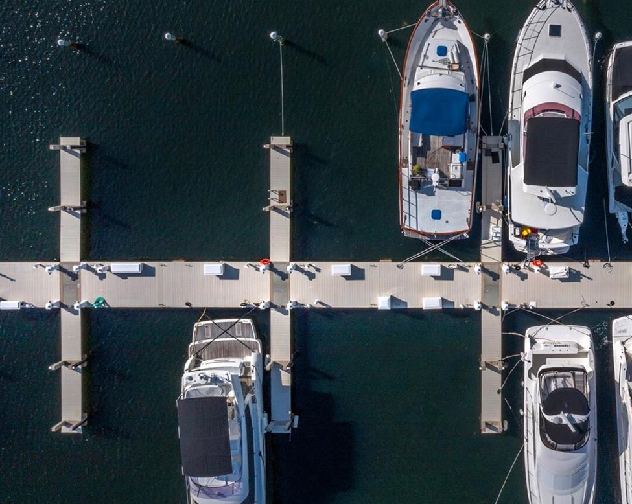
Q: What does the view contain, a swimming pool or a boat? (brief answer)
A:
boat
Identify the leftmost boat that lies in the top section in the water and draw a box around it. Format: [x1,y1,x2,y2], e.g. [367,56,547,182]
[398,0,480,241]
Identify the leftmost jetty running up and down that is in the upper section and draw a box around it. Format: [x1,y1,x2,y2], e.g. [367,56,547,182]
[60,138,86,262]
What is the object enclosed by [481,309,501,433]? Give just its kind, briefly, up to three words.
pier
